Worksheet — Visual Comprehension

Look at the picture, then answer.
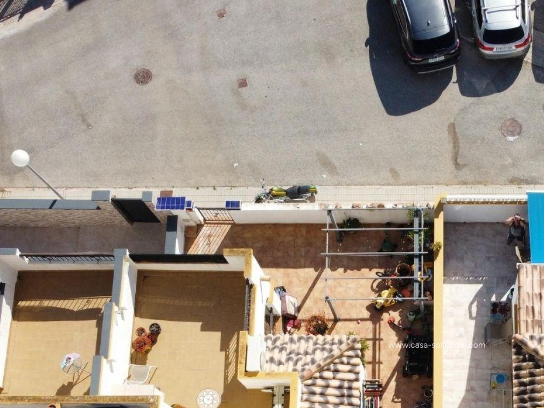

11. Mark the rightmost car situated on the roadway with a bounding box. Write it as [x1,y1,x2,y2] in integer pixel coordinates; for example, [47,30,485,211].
[473,0,533,61]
